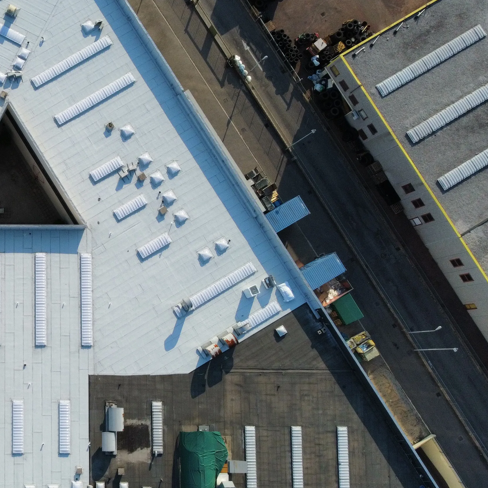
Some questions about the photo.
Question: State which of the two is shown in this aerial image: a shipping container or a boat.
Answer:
shipping container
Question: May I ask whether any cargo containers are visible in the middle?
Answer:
Yes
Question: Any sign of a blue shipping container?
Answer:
Yes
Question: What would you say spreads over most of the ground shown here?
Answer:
buildings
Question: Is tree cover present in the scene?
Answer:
No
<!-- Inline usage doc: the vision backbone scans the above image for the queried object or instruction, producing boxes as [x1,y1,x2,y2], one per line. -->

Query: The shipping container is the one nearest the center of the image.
[261,195,310,234]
